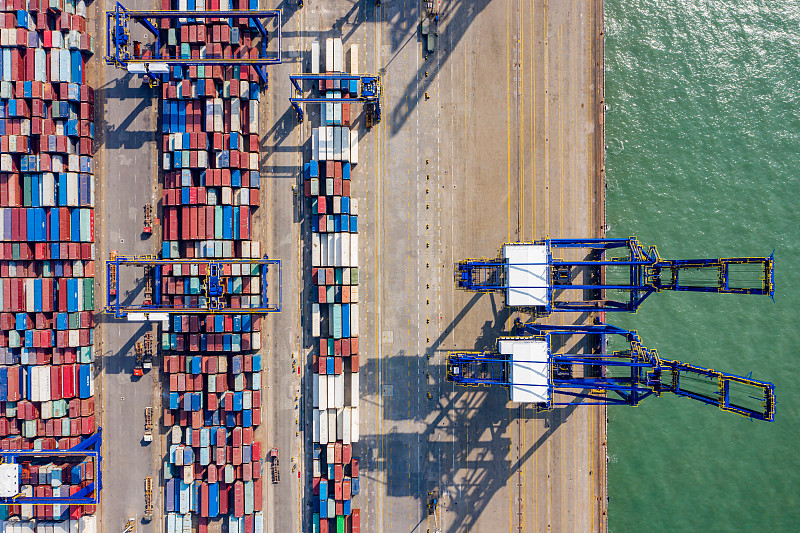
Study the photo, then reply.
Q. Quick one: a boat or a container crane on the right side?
container crane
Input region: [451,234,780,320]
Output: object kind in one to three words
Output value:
container crane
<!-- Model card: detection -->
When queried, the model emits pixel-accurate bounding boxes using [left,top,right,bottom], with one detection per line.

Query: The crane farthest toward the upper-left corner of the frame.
[104,2,284,94]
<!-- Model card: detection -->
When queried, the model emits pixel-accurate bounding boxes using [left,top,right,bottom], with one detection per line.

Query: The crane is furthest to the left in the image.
[0,425,101,510]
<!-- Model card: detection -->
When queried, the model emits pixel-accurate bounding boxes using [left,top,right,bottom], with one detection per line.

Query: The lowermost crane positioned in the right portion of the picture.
[440,311,780,429]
